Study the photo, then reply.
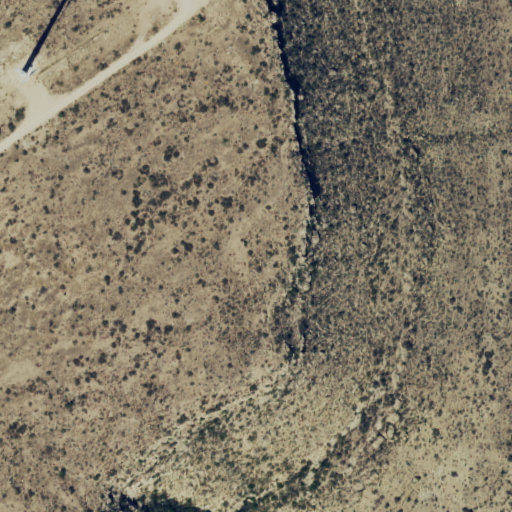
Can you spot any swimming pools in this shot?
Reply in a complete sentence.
No, I can't see a single swimming pool in this photo.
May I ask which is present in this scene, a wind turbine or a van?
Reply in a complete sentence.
There is a wind turbine in the scene.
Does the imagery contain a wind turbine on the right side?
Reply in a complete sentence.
No, I see no wind turbine on the right side.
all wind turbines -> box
[8,50,44,102]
